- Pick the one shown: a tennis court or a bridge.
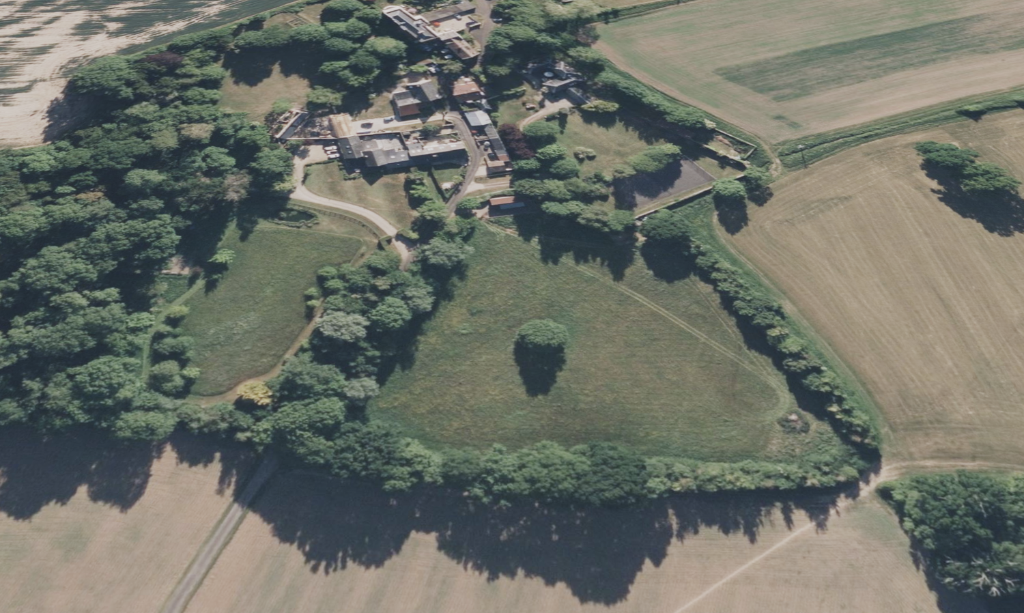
tennis court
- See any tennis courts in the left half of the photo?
No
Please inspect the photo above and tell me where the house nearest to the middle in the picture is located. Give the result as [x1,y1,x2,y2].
[489,194,525,213]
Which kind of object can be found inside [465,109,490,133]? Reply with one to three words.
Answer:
barn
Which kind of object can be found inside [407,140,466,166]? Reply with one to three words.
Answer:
barn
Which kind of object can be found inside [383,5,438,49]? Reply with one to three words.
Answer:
house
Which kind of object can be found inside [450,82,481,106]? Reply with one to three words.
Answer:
house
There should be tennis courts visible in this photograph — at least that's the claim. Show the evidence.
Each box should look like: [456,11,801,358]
[615,159,713,212]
